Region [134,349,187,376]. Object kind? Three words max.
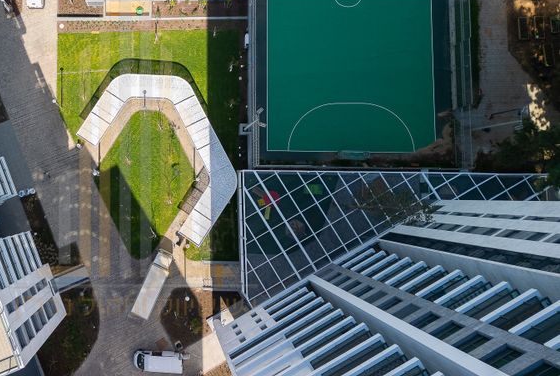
vehicle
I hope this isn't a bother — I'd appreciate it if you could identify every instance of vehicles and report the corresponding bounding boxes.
[134,349,187,376]
[24,0,42,6]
